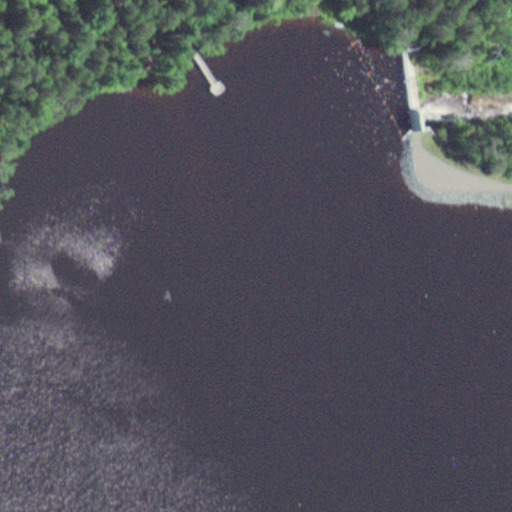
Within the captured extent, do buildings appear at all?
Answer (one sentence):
No, there isn't any building down there.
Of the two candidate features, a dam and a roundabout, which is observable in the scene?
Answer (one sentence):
It is a dam that can be seen here.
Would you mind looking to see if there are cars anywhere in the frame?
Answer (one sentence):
No, no car is visible in the scene.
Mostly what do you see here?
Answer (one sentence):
What you mostly see from above here is water.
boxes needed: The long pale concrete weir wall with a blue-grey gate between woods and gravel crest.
[402,46,448,140]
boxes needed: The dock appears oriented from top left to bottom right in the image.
[191,50,224,96]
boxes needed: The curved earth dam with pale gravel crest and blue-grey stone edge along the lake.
[400,132,512,210]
